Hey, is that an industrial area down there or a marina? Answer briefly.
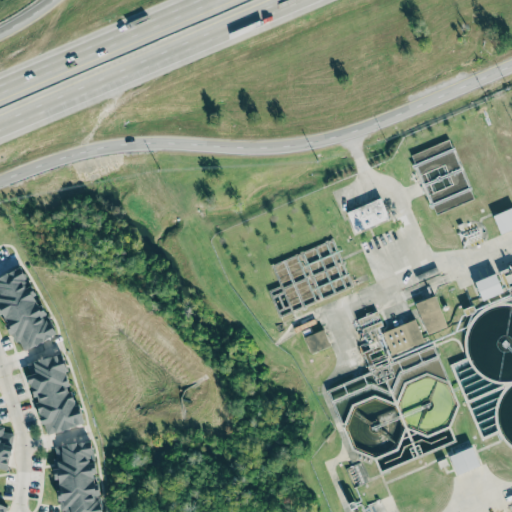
industrial area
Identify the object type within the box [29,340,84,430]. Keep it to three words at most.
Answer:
building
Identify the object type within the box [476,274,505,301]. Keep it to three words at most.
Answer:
building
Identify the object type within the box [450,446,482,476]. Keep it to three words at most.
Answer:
shed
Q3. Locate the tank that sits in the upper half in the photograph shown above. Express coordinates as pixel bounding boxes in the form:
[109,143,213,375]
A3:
[412,140,475,214]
